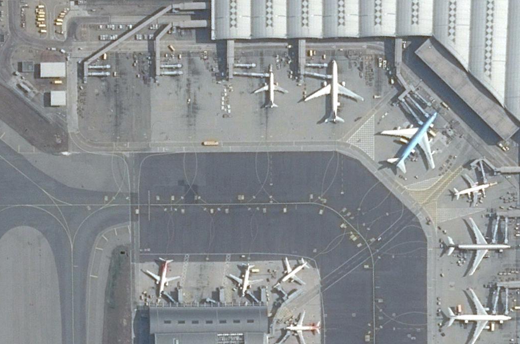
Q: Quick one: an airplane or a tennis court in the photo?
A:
airplane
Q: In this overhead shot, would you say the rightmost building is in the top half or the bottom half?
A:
top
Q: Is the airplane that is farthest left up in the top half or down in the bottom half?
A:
bottom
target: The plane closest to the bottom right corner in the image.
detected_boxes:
[449,289,511,344]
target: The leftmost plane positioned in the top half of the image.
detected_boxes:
[255,65,288,107]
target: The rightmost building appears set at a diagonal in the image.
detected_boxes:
[415,37,520,144]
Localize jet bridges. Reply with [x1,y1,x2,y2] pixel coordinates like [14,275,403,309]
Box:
[503,287,509,315]
[88,63,111,70]
[88,71,111,77]
[278,285,290,299]
[160,62,184,69]
[161,292,178,304]
[305,62,328,69]
[160,70,184,76]
[234,62,257,68]
[206,297,218,304]
[492,287,501,315]
[277,331,290,344]
[481,163,489,183]
[246,291,261,304]
[492,216,501,243]
[406,92,429,117]
[234,70,269,78]
[503,216,509,244]
[401,98,422,124]
[413,88,431,106]
[305,70,333,79]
